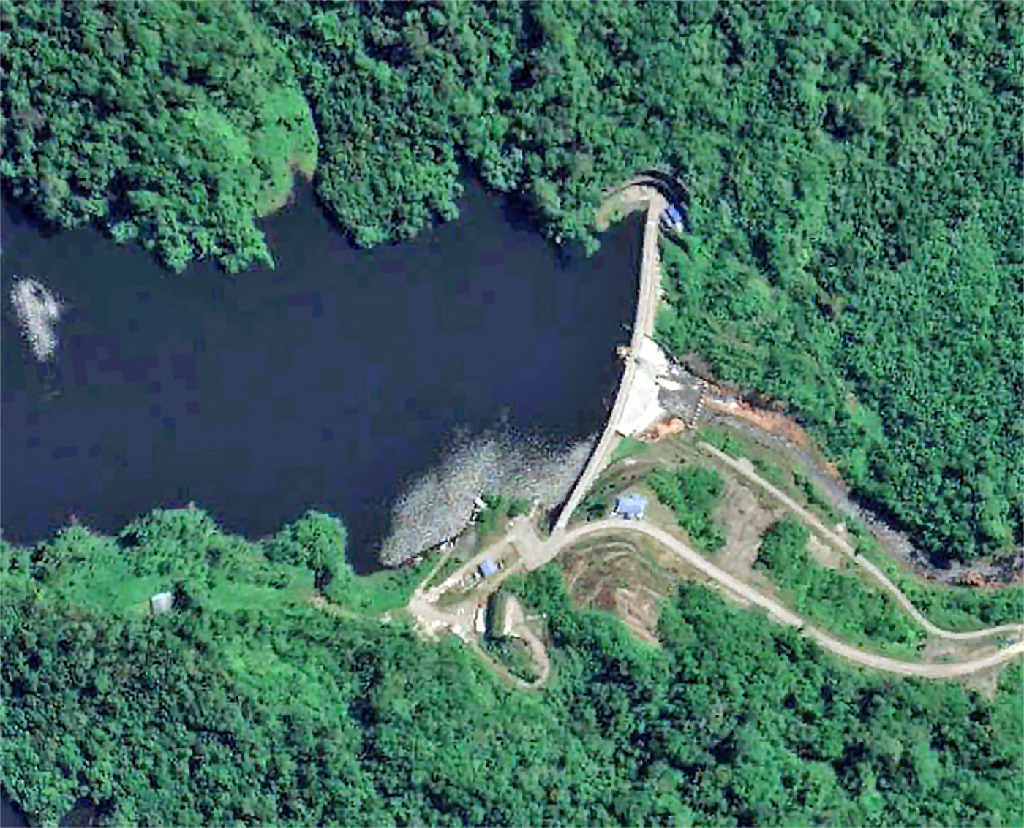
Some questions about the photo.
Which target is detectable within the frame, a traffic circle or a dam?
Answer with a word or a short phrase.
dam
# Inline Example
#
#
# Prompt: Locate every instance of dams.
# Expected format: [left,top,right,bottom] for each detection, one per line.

[553,202,721,538]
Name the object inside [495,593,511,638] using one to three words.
shed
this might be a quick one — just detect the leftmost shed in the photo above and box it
[152,592,173,612]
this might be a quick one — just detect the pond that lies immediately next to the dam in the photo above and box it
[0,173,647,580]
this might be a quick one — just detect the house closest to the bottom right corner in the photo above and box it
[616,497,646,519]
